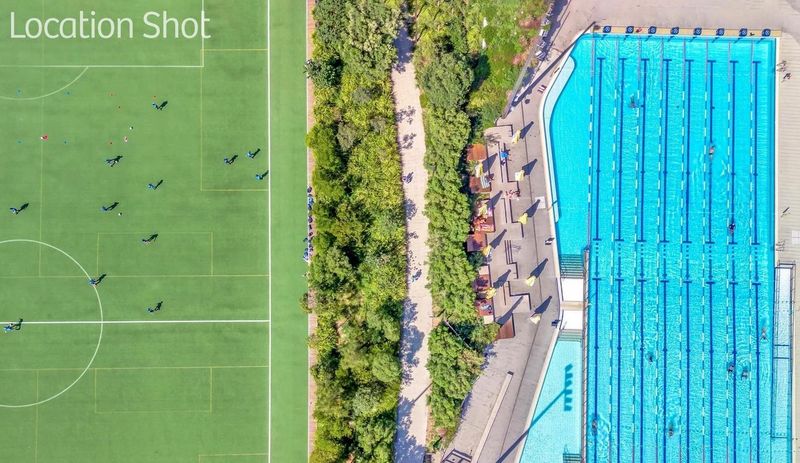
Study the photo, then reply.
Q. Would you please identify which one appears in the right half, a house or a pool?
pool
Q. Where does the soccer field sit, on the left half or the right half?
left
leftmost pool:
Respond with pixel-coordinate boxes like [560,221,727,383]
[516,311,584,463]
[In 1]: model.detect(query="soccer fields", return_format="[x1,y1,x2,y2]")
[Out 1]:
[0,0,308,463]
